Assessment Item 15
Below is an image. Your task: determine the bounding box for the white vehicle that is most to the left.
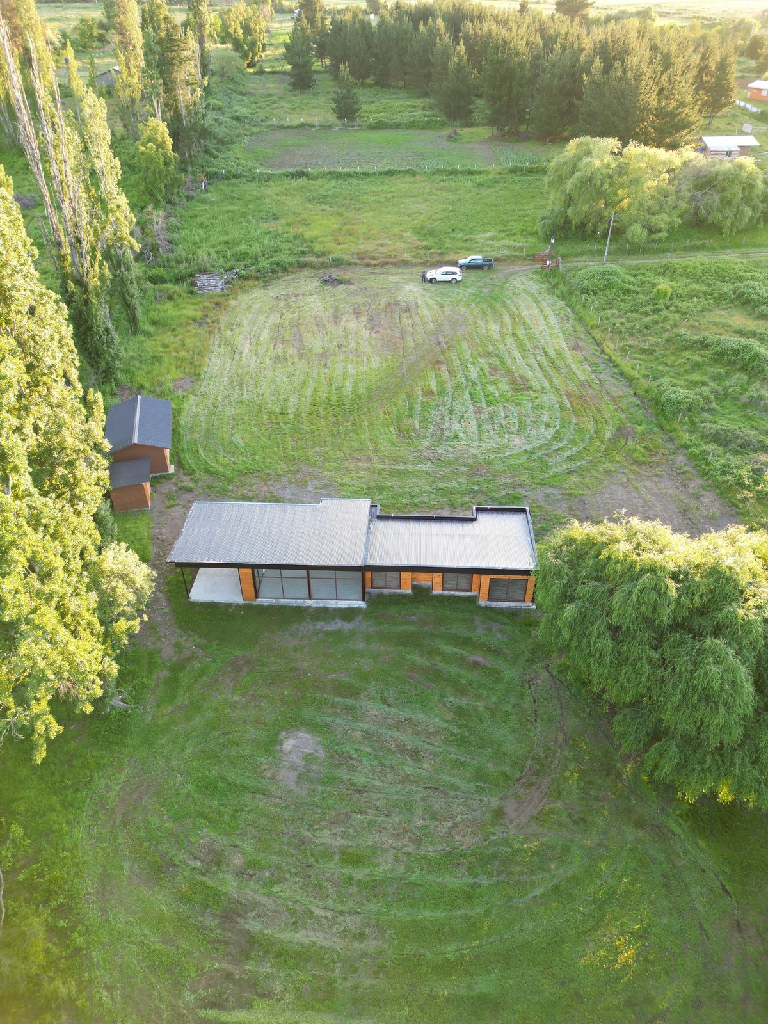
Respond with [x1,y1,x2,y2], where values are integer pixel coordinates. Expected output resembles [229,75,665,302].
[427,264,464,281]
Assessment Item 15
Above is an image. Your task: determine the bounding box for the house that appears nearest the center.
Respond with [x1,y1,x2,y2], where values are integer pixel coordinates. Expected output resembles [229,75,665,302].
[167,496,541,608]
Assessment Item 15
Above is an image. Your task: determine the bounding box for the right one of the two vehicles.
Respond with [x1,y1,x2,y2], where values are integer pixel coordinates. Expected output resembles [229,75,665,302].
[457,252,496,267]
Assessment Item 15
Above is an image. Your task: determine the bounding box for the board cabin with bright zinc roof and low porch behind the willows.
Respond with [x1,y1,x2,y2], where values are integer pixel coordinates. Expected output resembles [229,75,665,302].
[698,130,763,157]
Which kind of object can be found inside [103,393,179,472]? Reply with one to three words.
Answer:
shed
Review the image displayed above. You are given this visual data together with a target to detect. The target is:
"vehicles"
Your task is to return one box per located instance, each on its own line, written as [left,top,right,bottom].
[427,264,464,281]
[457,252,496,267]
